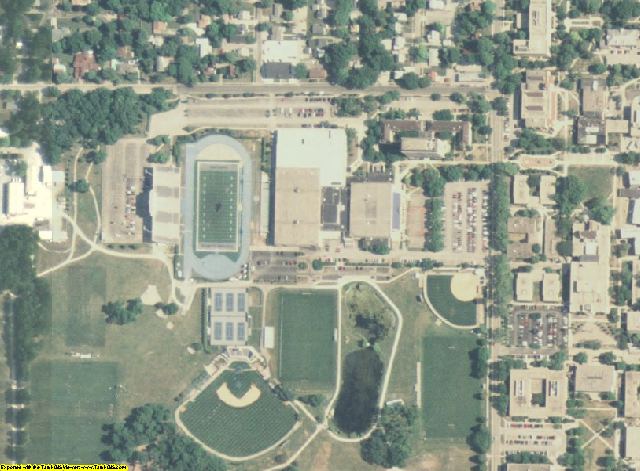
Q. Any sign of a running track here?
Yes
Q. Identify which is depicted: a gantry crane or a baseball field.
baseball field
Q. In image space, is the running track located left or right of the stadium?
left of it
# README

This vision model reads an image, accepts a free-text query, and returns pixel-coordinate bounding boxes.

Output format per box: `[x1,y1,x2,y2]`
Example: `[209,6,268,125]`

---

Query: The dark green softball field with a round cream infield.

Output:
[426,274,485,325]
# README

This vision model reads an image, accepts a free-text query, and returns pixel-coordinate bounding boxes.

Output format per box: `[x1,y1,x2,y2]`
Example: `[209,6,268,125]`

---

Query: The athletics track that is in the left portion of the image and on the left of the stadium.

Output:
[186,134,251,282]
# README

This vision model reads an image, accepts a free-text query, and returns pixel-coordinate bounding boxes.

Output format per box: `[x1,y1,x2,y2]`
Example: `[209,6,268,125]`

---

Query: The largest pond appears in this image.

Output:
[334,348,384,434]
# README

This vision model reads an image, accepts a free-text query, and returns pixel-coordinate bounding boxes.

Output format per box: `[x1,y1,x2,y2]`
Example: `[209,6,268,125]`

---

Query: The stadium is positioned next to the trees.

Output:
[349,171,400,237]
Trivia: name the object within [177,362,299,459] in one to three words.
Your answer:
baseball field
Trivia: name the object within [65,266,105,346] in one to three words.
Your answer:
sports field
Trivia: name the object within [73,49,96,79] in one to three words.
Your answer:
house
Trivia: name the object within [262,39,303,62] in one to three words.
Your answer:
building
